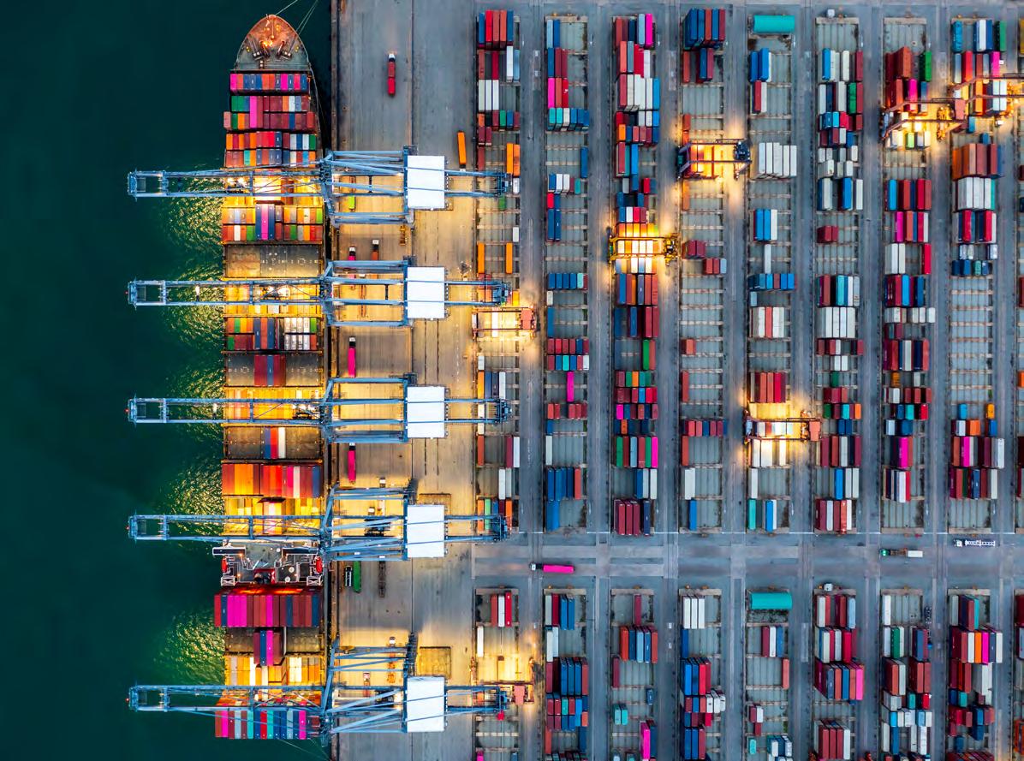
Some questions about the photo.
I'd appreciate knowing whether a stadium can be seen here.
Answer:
No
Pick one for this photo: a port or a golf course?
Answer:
port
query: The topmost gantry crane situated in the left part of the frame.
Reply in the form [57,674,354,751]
[124,144,510,239]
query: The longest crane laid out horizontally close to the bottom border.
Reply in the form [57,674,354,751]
[124,628,508,736]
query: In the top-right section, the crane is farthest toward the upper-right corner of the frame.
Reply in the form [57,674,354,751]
[946,74,1024,120]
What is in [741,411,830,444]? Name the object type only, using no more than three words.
crane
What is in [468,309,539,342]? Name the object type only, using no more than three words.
crane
